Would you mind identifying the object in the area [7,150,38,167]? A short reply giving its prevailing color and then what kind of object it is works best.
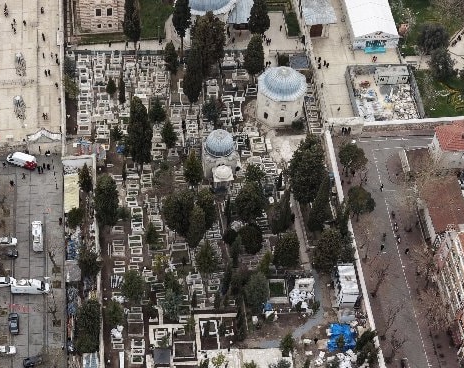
white vehicle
